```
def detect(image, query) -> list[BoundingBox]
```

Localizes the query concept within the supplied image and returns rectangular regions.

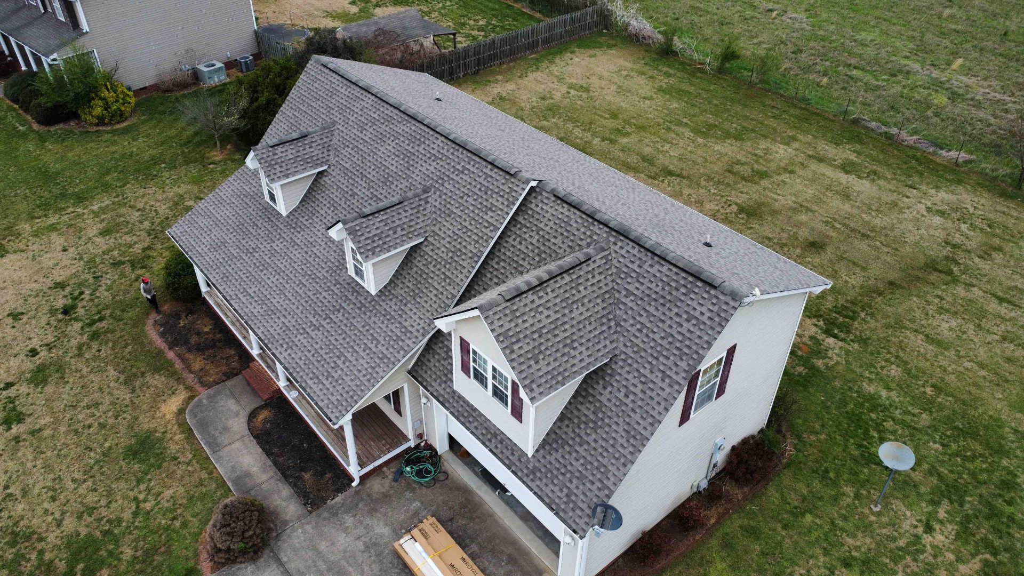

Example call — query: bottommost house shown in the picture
[165,53,833,576]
